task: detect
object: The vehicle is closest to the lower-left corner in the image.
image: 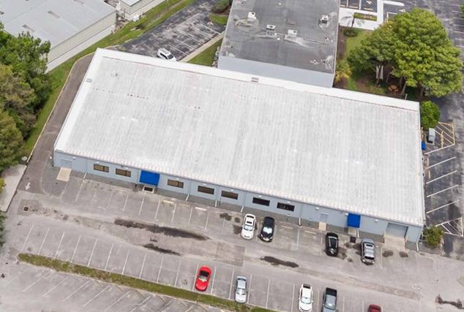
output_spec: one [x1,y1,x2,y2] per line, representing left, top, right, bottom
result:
[195,266,210,293]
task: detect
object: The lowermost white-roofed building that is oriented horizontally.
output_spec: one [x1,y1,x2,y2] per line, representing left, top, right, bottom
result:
[54,46,423,242]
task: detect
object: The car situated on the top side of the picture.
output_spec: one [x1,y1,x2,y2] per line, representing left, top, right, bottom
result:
[154,45,177,59]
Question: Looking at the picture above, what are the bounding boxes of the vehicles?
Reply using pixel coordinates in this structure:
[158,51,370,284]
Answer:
[360,239,375,266]
[154,45,177,59]
[195,266,210,293]
[325,231,339,258]
[233,275,248,305]
[297,283,312,312]
[367,303,381,312]
[259,215,274,242]
[321,286,337,312]
[241,213,256,240]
